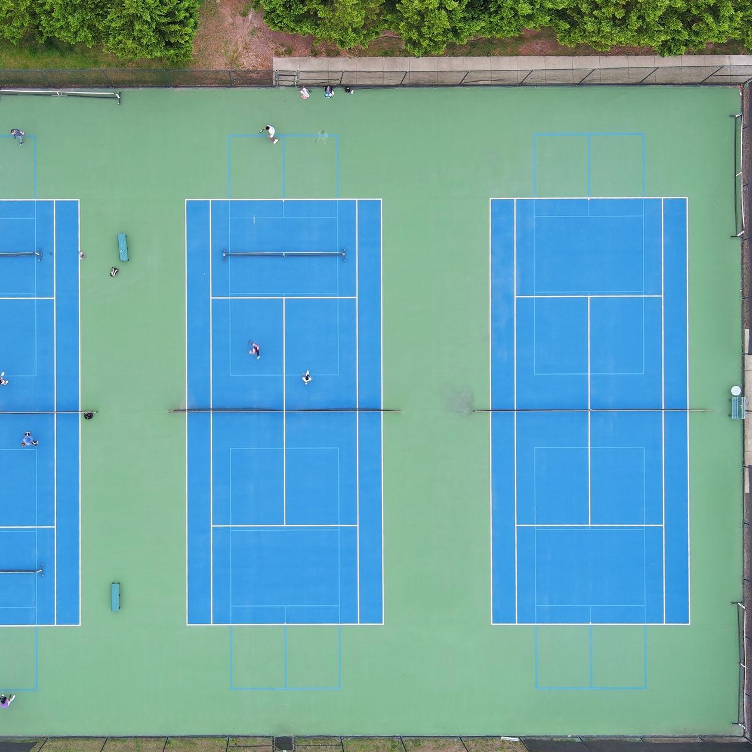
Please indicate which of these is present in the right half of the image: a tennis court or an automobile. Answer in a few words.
tennis court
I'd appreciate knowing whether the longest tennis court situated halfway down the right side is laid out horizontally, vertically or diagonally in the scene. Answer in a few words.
vertically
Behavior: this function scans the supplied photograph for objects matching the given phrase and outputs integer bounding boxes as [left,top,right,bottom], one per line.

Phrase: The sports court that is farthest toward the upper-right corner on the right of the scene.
[534,134,645,375]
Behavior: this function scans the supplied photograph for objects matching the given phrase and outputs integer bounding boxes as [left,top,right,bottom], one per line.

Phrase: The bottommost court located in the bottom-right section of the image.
[535,448,646,688]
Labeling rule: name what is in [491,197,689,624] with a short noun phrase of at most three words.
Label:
tennis court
